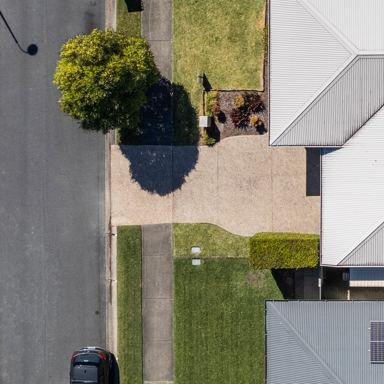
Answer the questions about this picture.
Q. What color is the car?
black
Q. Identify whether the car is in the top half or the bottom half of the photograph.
bottom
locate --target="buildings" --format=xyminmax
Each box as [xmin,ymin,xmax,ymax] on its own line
[266,299,384,384]
[268,0,384,268]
